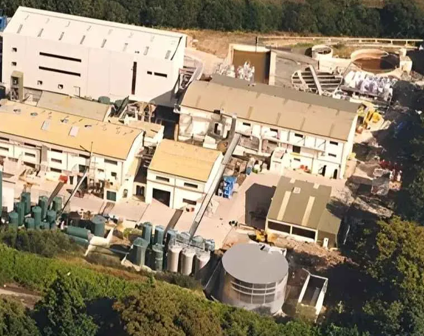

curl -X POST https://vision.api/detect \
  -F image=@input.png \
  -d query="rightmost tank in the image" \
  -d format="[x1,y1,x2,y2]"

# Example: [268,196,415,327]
[353,41,412,76]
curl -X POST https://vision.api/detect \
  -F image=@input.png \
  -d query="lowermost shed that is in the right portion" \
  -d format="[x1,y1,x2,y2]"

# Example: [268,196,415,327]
[266,183,342,242]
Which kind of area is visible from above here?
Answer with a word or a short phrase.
industrial area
